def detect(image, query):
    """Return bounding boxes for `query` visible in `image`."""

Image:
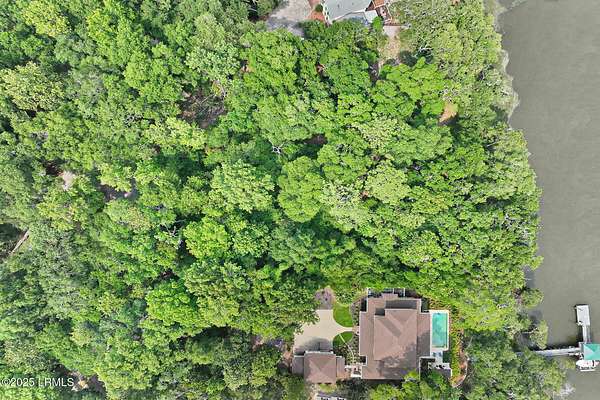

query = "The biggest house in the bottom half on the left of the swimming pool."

[356,290,430,380]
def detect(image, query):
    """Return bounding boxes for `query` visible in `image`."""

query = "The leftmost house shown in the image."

[292,349,345,384]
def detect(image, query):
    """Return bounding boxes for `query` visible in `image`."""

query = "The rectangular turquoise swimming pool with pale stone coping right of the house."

[431,310,451,351]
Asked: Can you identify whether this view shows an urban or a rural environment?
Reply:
rural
